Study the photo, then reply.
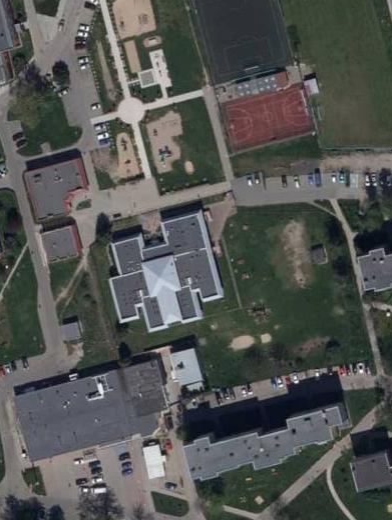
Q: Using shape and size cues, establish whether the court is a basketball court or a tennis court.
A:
basketball court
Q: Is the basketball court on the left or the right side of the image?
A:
right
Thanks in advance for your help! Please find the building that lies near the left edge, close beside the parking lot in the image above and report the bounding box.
[15,370,135,462]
